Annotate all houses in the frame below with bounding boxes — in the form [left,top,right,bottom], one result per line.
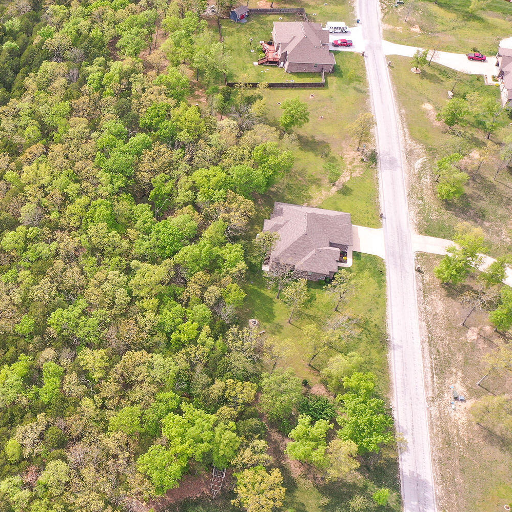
[273,22,337,72]
[263,201,353,282]
[496,47,512,109]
